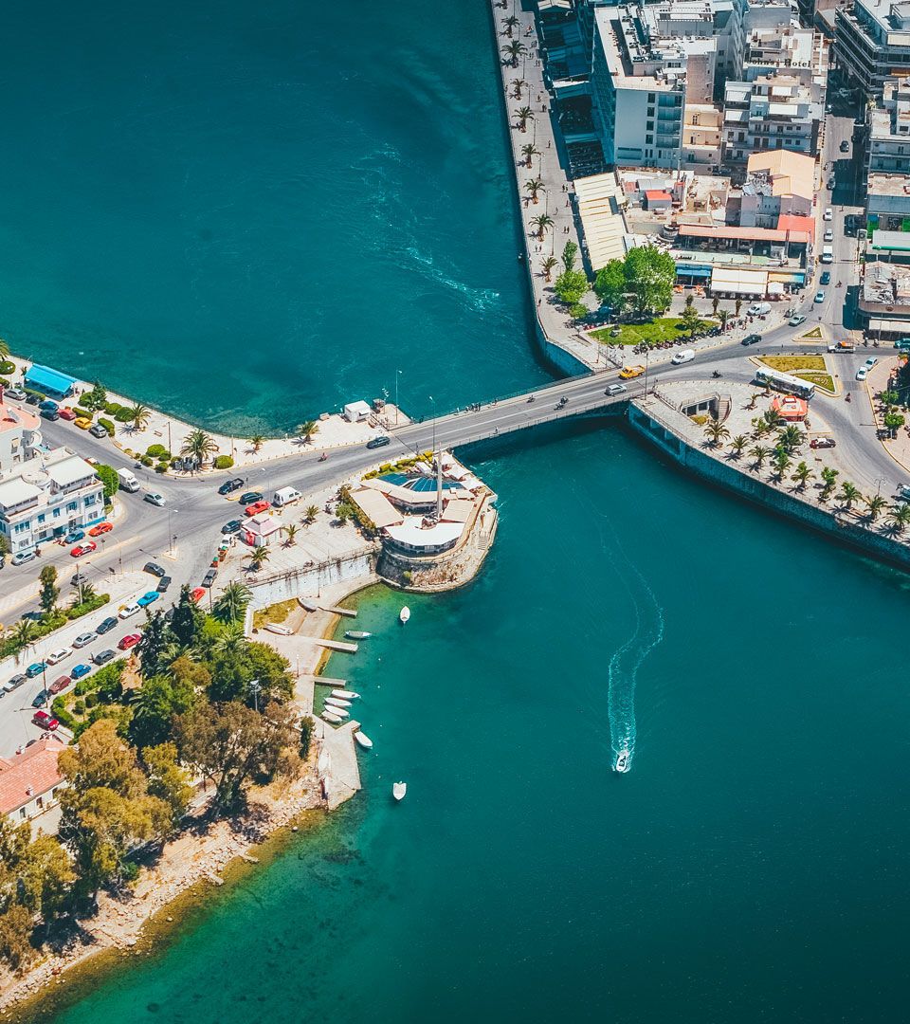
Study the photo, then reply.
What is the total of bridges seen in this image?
1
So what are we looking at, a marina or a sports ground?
marina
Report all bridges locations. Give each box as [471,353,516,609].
[408,367,632,457]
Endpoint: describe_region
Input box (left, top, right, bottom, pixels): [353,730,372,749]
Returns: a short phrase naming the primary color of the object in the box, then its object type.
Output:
white boat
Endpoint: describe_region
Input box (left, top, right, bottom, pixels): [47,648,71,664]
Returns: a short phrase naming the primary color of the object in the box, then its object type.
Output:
white car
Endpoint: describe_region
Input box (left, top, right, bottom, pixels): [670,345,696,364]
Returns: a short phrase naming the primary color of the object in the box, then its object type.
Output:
white vehicle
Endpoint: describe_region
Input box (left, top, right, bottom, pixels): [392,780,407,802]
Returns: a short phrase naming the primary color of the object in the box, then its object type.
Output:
white boat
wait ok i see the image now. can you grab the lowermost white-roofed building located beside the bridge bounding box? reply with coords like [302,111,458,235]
[350,451,494,558]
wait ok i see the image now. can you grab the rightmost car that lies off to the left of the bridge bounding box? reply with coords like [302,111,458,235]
[366,435,391,449]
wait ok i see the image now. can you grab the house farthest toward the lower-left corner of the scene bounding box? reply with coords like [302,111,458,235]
[0,738,61,832]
